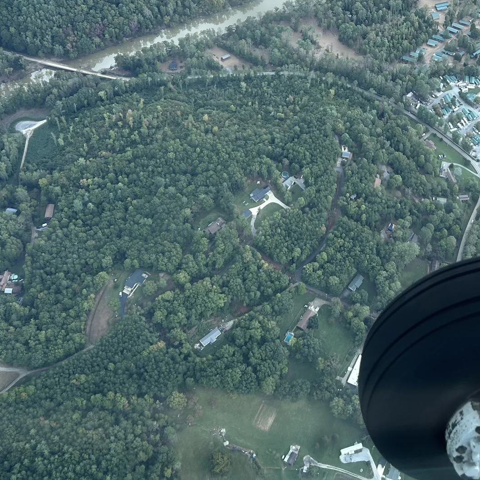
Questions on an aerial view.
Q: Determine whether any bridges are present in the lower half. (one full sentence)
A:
No, I can find no bridge in the lower half.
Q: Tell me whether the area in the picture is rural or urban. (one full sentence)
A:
The area shown here is rural.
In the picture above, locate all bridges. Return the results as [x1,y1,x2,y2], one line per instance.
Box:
[41,58,136,83]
